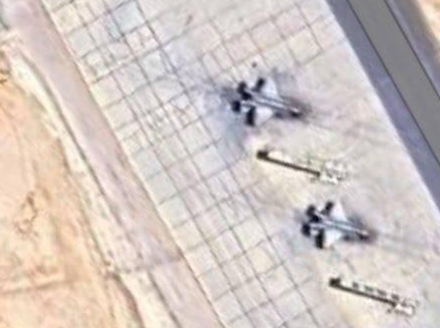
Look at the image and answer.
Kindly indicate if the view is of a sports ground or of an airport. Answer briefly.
airport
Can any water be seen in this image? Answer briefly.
No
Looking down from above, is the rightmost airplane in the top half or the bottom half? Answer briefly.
bottom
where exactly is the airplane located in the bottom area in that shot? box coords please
[311,204,376,248]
